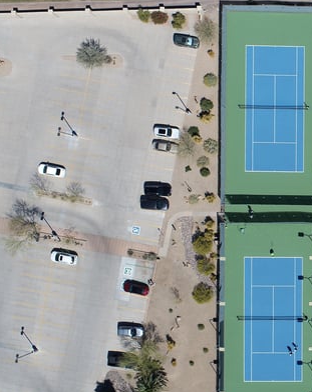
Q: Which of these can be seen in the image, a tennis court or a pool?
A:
tennis court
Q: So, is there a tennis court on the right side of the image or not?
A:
Yes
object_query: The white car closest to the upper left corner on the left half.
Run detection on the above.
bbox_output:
[39,163,66,176]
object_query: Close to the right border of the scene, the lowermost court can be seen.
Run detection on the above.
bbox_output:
[224,223,312,392]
